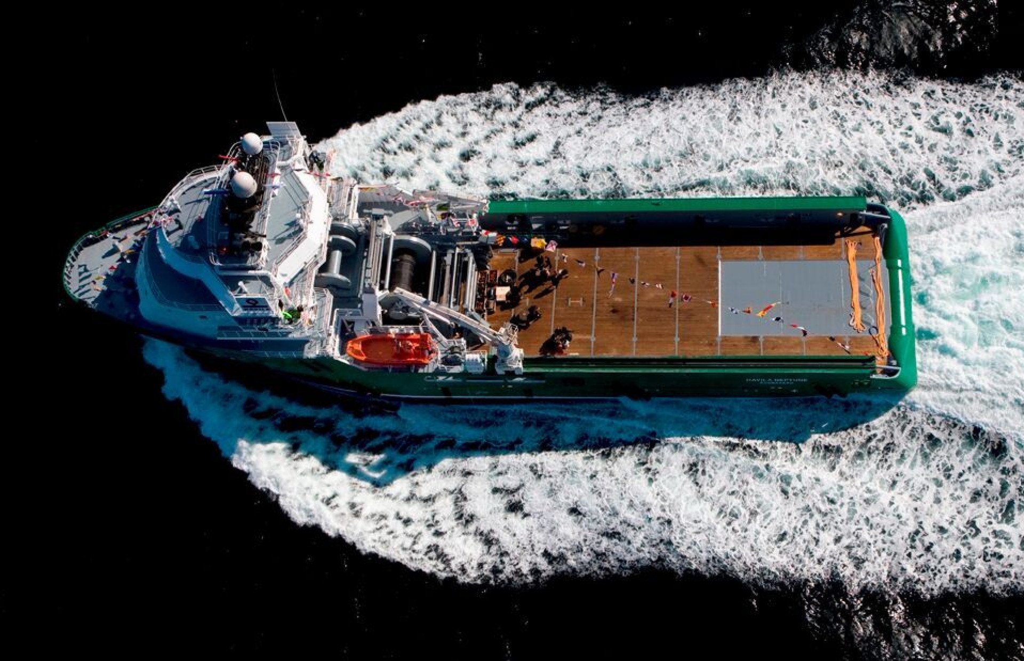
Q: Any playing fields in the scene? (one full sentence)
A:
No, this view has no playing field in it.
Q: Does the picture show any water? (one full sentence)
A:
Yes, some water is visible.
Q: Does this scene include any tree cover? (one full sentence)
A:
No, no tree cover is visible.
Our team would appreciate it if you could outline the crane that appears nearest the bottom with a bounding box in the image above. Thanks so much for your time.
[389,290,525,377]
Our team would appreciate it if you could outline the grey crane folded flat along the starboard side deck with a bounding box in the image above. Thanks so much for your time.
[418,187,490,246]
